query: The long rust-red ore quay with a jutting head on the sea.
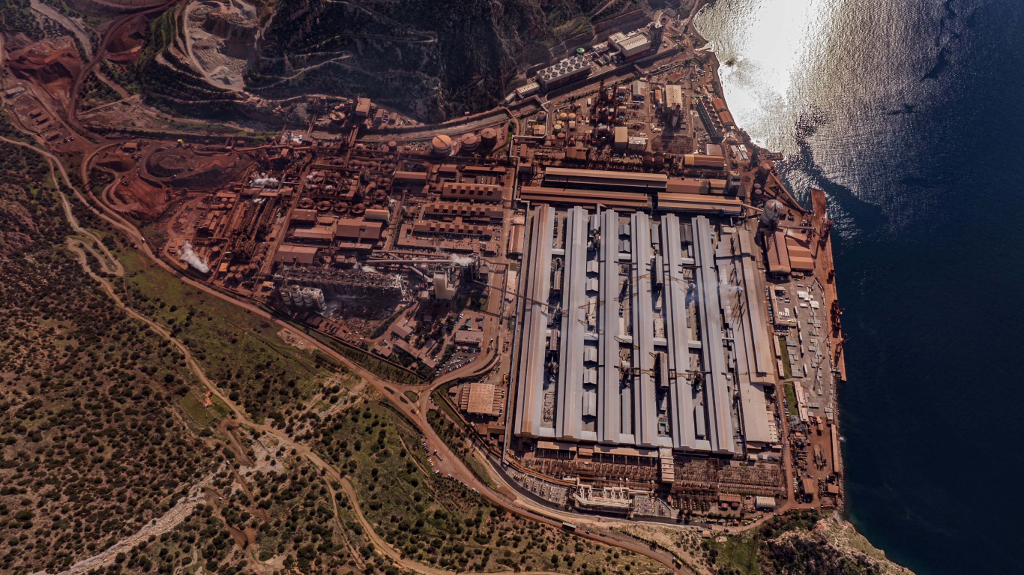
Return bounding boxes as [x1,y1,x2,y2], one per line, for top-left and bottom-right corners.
[810,190,847,382]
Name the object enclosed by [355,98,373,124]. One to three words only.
house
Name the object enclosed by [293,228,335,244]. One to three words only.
shed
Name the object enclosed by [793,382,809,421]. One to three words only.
building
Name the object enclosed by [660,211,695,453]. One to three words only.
building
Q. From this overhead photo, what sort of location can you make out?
port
